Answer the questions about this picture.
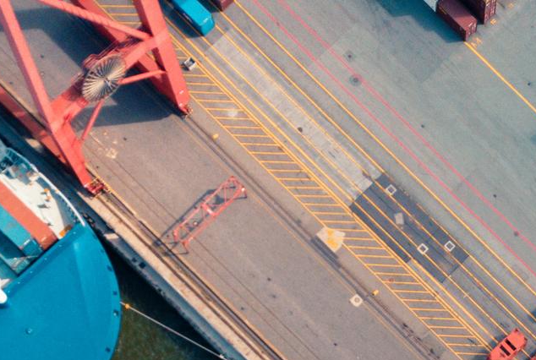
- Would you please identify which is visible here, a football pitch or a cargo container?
cargo container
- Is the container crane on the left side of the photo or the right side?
left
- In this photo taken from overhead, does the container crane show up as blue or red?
red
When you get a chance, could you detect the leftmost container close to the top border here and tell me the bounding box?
[169,0,217,36]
